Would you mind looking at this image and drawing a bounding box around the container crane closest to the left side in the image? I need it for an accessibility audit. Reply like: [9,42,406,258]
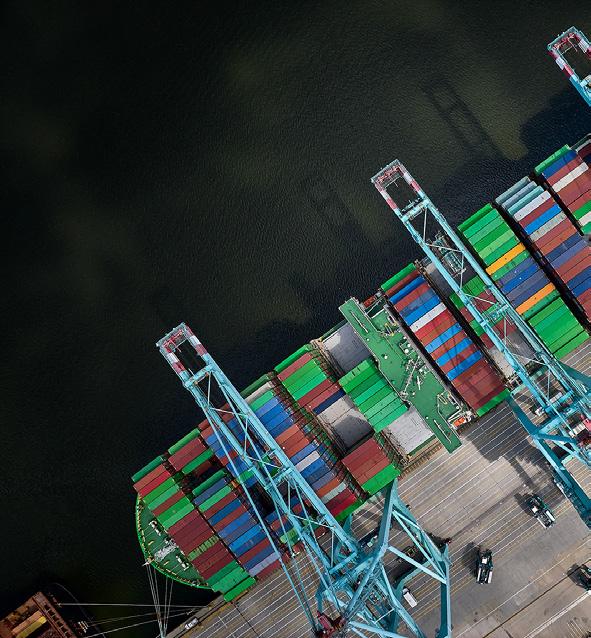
[157,319,461,638]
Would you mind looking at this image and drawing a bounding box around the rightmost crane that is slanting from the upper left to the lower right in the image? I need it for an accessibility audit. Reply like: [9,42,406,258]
[369,159,591,518]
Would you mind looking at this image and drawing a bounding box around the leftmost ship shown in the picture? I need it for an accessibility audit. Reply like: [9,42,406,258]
[0,574,120,638]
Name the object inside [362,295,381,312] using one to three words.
boat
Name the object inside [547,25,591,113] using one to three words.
container crane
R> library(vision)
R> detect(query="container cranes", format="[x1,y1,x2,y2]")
[547,25,591,113]
[157,319,461,638]
[369,159,591,518]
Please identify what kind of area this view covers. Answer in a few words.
port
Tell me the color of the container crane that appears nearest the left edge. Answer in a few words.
blue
